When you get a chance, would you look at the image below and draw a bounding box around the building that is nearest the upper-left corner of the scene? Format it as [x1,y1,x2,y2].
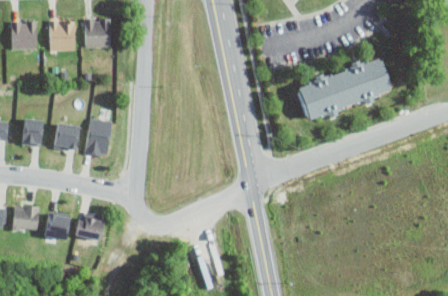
[11,20,38,50]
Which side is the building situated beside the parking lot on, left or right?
right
